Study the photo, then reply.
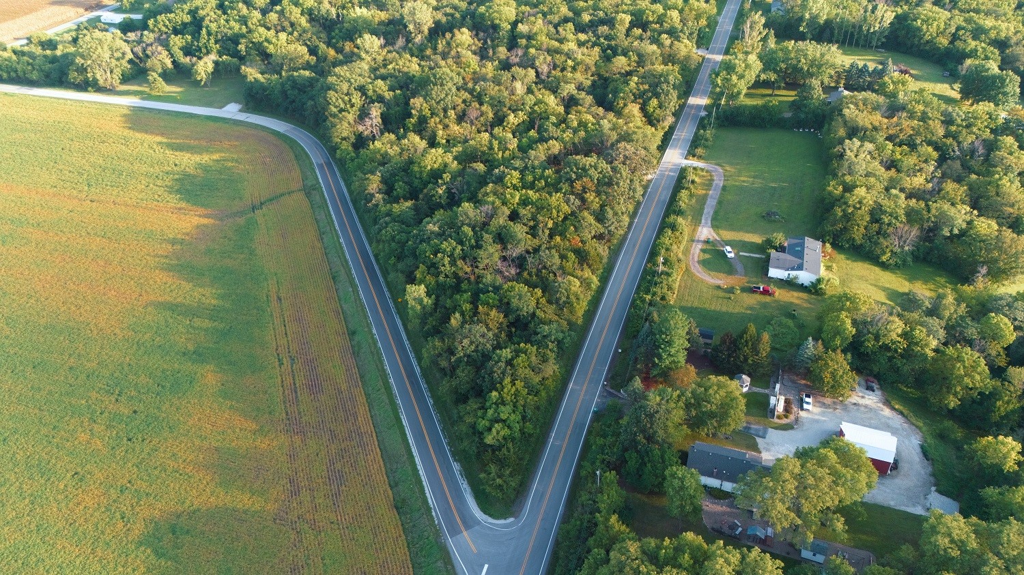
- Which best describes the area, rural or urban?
rural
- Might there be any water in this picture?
No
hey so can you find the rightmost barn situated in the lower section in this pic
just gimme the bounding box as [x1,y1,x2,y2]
[840,424,896,476]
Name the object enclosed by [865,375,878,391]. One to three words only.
vehicle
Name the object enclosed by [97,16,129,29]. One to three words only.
barn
